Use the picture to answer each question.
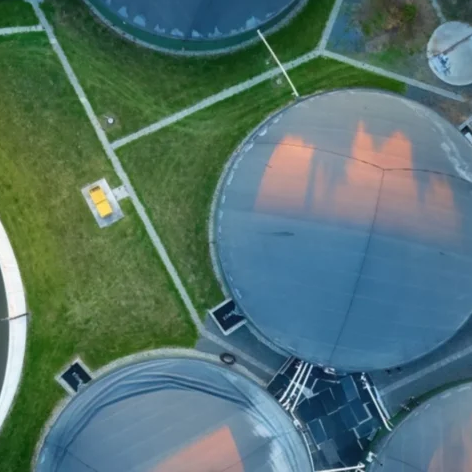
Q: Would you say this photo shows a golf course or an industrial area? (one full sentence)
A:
This image shows an industrial area.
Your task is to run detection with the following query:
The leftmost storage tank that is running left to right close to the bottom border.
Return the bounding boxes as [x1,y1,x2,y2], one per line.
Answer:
[34,351,314,472]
